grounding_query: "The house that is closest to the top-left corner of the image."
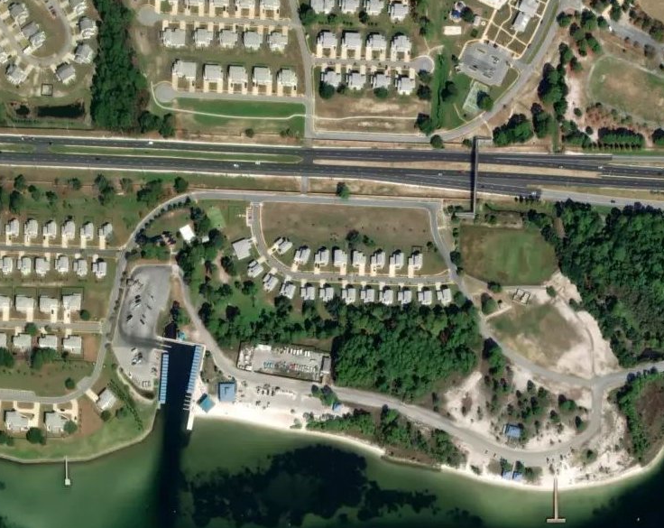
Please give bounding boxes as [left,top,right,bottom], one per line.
[7,0,33,23]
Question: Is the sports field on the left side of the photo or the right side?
right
